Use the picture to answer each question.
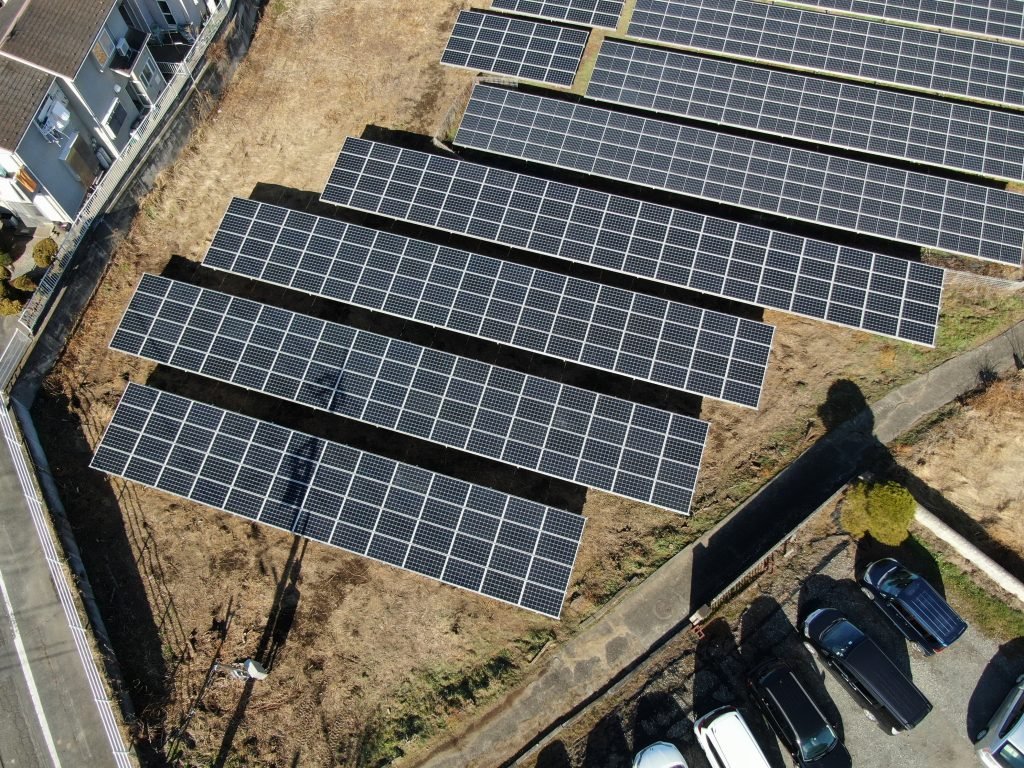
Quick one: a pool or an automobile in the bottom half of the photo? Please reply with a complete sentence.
What appears in the bottom half of the photo is an automobile.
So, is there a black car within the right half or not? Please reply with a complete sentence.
Yes, looking within the right half, one can make out a black car.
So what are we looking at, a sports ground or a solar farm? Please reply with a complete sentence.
This looks like a solar farm.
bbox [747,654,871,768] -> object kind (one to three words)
car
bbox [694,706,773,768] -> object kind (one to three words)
car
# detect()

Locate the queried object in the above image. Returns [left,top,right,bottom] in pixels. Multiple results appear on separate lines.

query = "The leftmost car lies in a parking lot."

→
[635,740,691,768]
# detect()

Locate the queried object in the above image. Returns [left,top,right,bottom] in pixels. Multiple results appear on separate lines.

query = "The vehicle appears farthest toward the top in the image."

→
[864,555,973,657]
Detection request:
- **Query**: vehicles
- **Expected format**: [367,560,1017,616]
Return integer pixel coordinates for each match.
[864,555,973,657]
[694,706,773,768]
[974,666,1024,768]
[635,740,691,768]
[800,603,932,742]
[747,654,871,768]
